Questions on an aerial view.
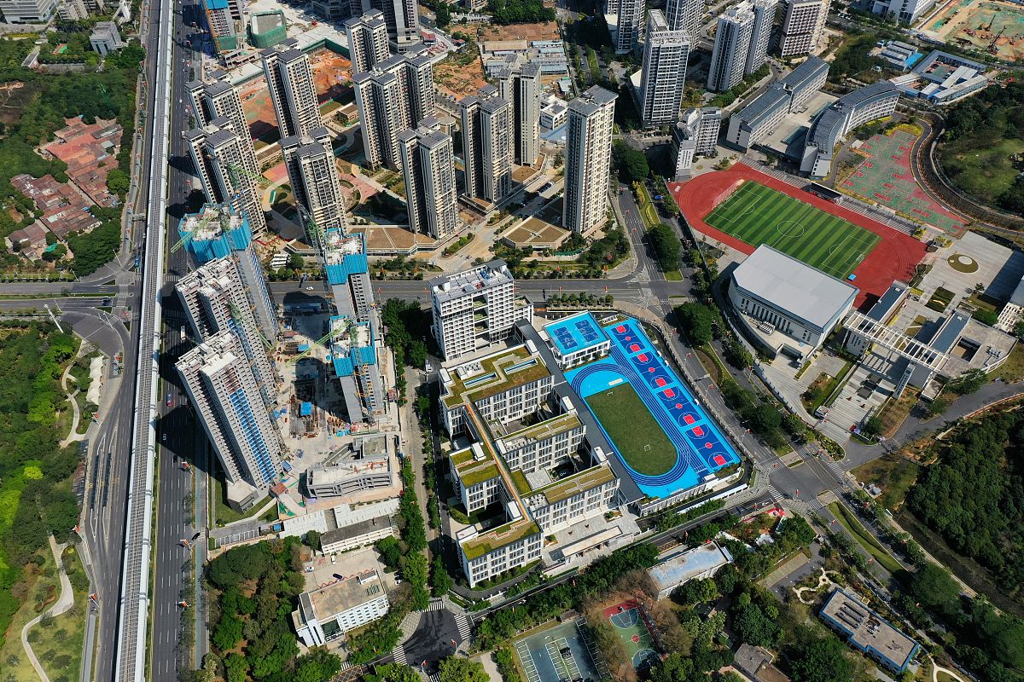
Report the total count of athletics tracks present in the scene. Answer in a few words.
two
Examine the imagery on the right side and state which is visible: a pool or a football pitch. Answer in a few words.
football pitch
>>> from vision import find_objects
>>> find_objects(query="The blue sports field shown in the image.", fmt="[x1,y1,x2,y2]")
[563,315,744,508]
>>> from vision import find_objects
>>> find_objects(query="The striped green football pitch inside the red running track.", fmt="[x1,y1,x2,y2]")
[700,177,884,281]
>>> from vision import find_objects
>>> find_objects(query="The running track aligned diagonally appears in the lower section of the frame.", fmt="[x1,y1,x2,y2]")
[572,342,703,483]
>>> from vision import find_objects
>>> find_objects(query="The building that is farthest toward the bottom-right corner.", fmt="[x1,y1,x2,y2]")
[819,589,919,674]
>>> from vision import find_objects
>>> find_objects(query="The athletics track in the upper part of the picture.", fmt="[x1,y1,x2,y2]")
[668,161,927,314]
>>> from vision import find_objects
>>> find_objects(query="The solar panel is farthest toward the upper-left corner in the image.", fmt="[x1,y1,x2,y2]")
[441,275,504,301]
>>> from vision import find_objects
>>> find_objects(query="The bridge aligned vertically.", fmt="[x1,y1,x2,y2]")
[113,0,174,682]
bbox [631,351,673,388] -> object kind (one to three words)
basketball court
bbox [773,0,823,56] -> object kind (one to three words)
building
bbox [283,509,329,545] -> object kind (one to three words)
shed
